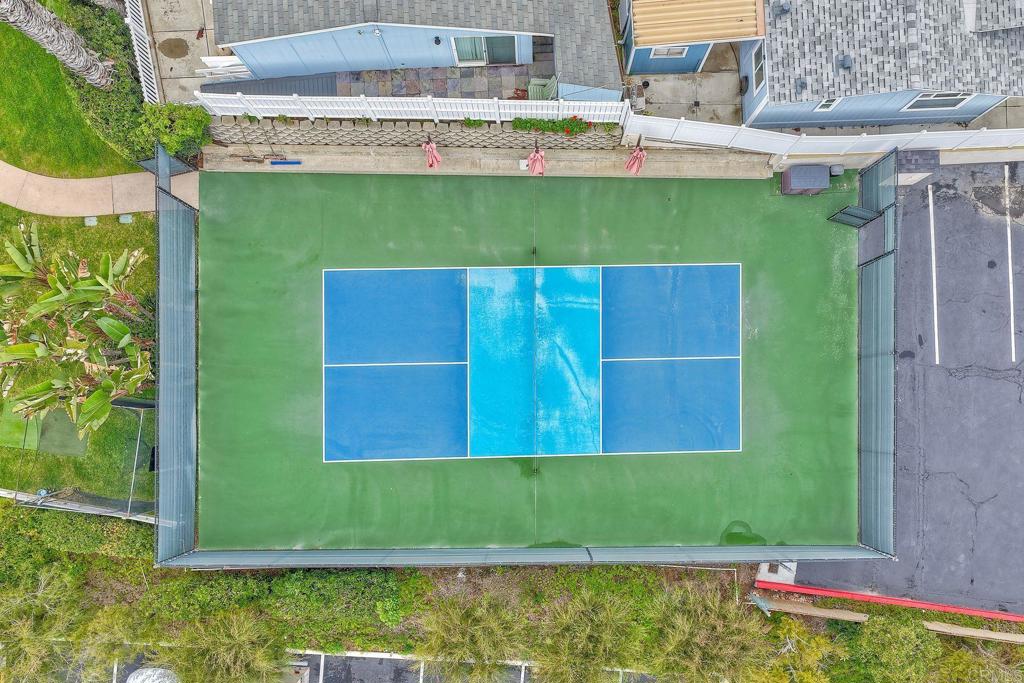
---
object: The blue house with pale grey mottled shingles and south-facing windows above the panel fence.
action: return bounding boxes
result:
[747,0,1024,126]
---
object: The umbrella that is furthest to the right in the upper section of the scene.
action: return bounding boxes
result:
[620,132,645,171]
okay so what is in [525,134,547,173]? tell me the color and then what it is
pink umbrella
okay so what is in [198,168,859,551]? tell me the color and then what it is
green sports court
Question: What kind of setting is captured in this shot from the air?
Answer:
sports ground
